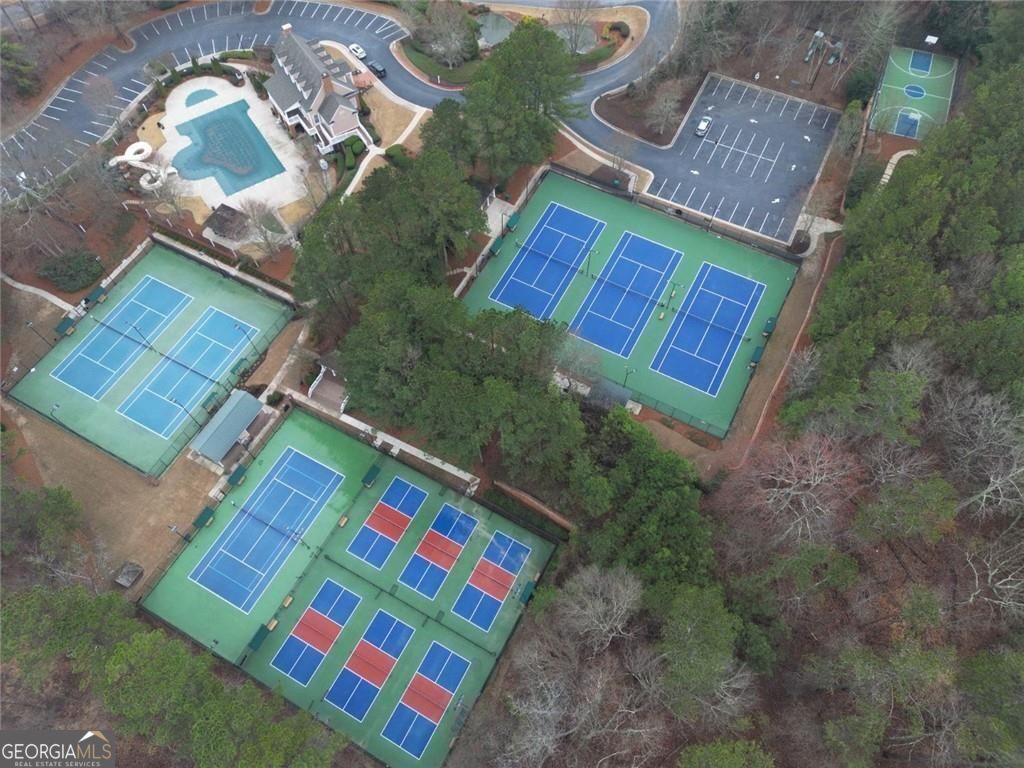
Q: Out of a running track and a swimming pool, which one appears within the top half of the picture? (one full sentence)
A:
The one visible within the top half of the picture is a swimming pool.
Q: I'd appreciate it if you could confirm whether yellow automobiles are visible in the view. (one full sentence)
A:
No, no yellow automobile is visible in the scene.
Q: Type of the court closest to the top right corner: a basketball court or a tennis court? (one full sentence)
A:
The court closest to the top right corner can be classified as a basketball court.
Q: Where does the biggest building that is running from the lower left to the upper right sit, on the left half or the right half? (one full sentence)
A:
The biggest building that is running from the lower left to the upper right is on the left side of the image.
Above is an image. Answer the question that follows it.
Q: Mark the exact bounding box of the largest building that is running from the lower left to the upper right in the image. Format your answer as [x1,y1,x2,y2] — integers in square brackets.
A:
[189,389,269,473]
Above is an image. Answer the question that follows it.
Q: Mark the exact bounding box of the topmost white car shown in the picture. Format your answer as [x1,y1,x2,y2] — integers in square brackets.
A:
[347,42,367,57]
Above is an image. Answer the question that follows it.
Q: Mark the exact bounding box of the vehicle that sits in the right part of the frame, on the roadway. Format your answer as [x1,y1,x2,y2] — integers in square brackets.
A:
[695,115,713,134]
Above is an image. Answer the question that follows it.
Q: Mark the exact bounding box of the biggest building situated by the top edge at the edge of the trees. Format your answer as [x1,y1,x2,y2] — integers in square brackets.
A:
[260,24,374,160]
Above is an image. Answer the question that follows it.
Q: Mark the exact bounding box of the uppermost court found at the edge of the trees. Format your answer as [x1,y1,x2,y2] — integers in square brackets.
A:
[870,47,957,142]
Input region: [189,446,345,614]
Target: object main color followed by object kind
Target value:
blue tennis court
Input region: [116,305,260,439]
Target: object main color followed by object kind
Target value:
blue tennis court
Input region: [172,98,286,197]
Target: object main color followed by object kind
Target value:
blue swimming pool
